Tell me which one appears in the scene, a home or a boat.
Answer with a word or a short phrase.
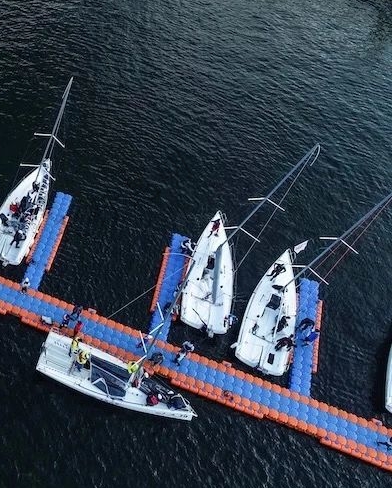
boat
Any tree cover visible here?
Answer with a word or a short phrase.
No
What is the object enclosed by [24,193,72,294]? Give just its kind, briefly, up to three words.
pier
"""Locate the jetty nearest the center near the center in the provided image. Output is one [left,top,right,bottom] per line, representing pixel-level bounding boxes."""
[148,232,188,342]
